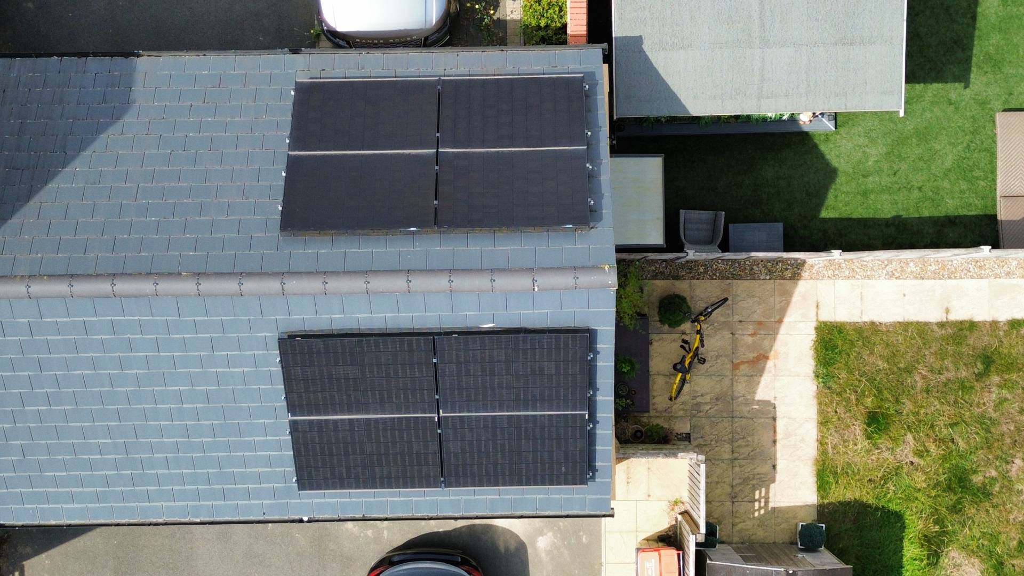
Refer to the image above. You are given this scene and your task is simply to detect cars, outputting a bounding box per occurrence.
[371,549,490,576]
[318,0,459,50]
